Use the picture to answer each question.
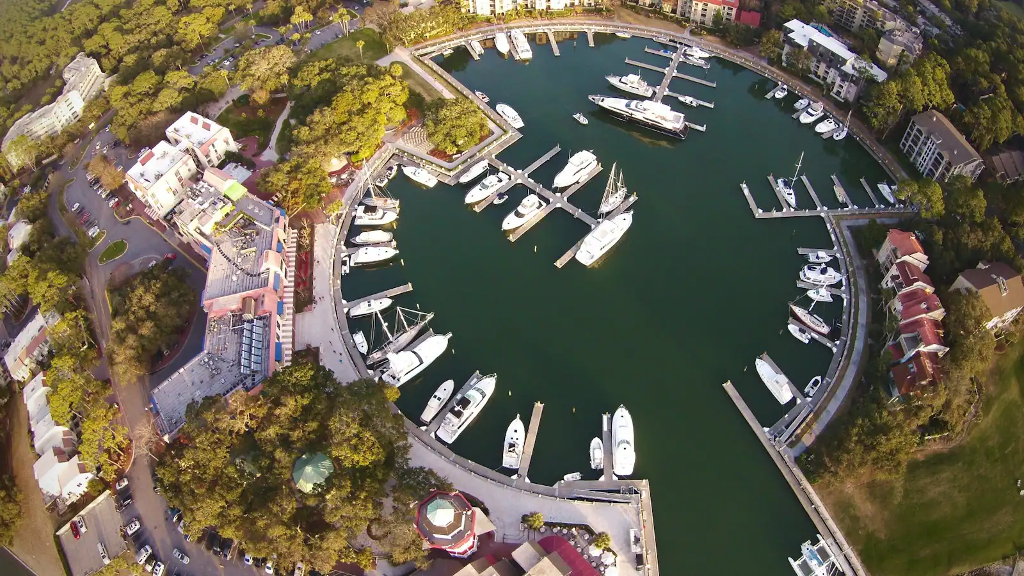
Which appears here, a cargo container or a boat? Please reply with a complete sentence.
Looking from above, you can make out a boat.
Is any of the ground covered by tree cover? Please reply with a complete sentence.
Yes, tree cover shows up in the scene.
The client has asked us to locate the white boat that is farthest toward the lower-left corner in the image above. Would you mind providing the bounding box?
[353,330,367,353]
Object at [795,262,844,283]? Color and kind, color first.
white boat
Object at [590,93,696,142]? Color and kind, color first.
white boat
